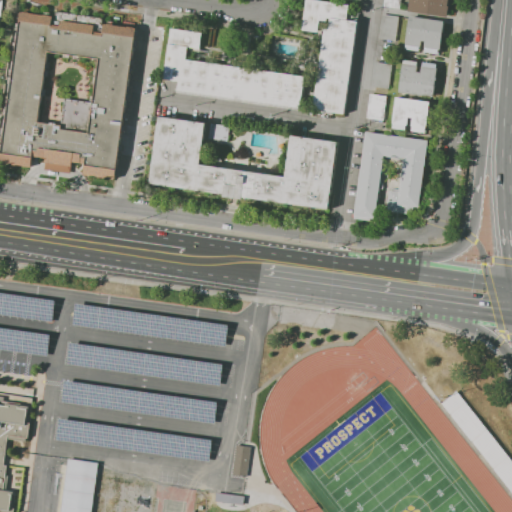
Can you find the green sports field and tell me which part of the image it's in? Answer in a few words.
bottom right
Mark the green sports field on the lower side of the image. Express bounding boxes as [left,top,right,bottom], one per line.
[286,379,496,512]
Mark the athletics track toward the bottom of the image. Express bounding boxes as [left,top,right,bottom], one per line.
[258,328,512,512]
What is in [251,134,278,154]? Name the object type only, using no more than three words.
swimming pool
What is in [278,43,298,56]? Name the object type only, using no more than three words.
swimming pool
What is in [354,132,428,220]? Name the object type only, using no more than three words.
house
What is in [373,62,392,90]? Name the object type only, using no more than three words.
building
